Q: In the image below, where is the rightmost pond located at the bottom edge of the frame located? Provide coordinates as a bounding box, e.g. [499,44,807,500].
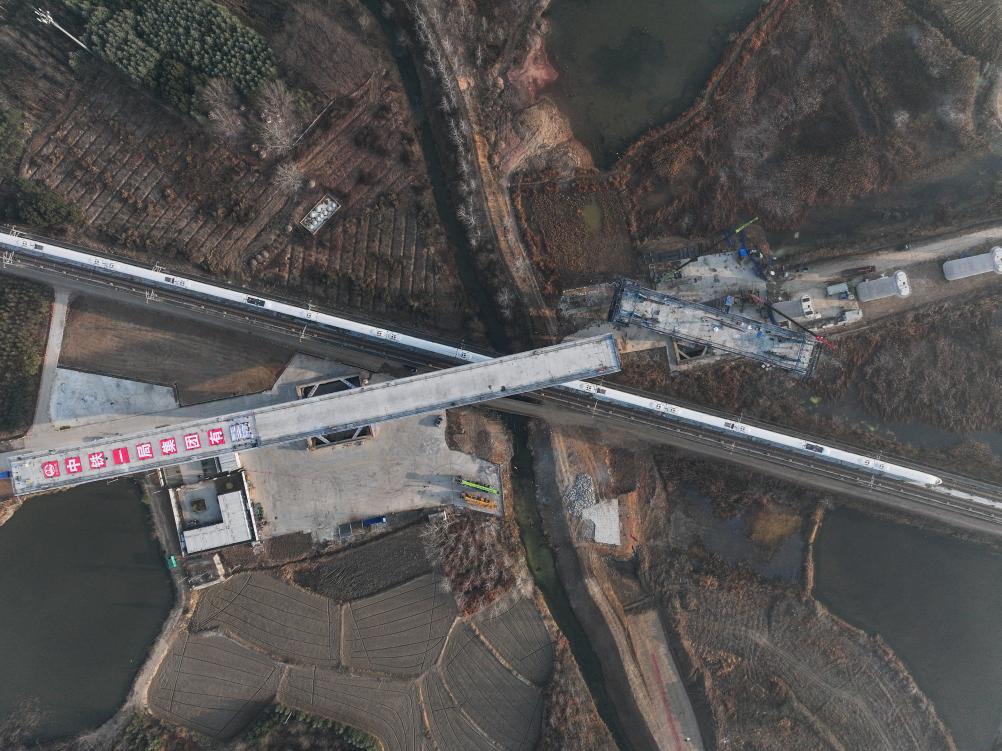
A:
[812,497,1002,751]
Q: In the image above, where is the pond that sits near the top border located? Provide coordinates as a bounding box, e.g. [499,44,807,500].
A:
[540,0,769,171]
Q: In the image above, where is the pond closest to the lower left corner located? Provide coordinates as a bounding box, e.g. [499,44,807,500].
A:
[0,469,176,740]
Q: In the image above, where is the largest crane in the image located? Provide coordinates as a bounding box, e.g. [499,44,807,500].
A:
[745,289,835,350]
